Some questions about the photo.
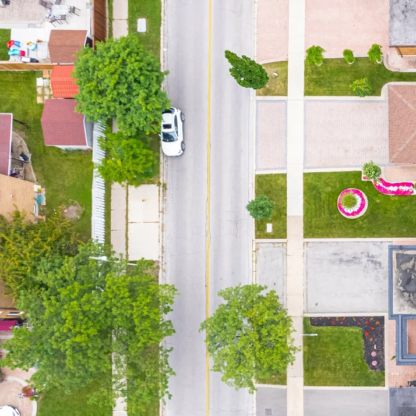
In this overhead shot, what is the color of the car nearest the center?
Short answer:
white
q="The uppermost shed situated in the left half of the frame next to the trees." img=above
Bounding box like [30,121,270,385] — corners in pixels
[45,29,97,66]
